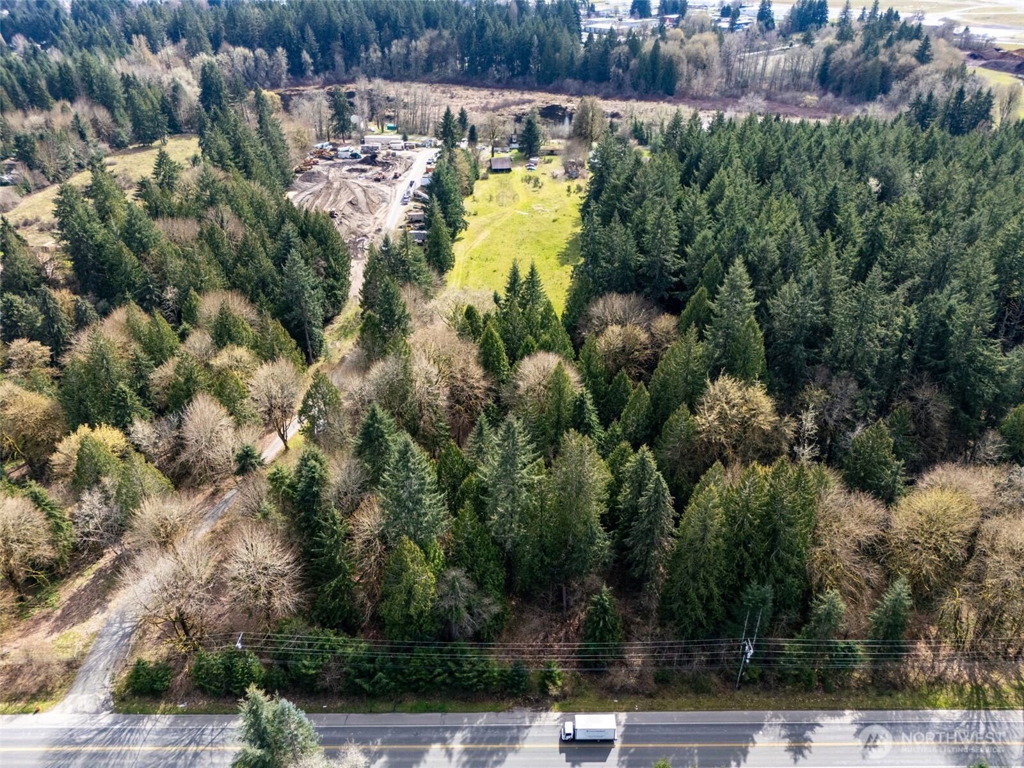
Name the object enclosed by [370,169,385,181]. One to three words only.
vehicle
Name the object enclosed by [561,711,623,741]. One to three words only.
truck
